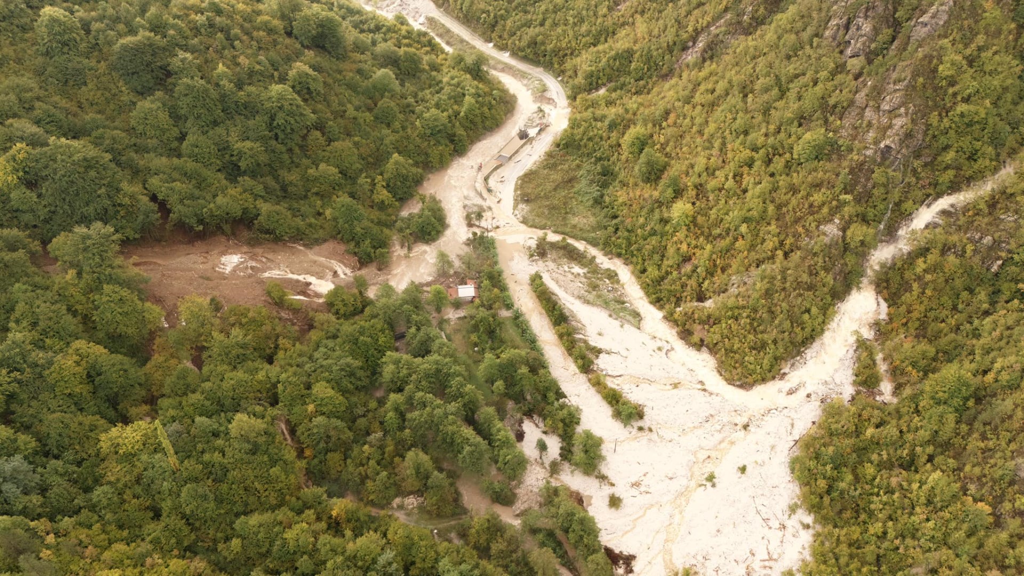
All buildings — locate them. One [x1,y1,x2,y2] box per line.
[446,278,478,300]
[498,130,530,164]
